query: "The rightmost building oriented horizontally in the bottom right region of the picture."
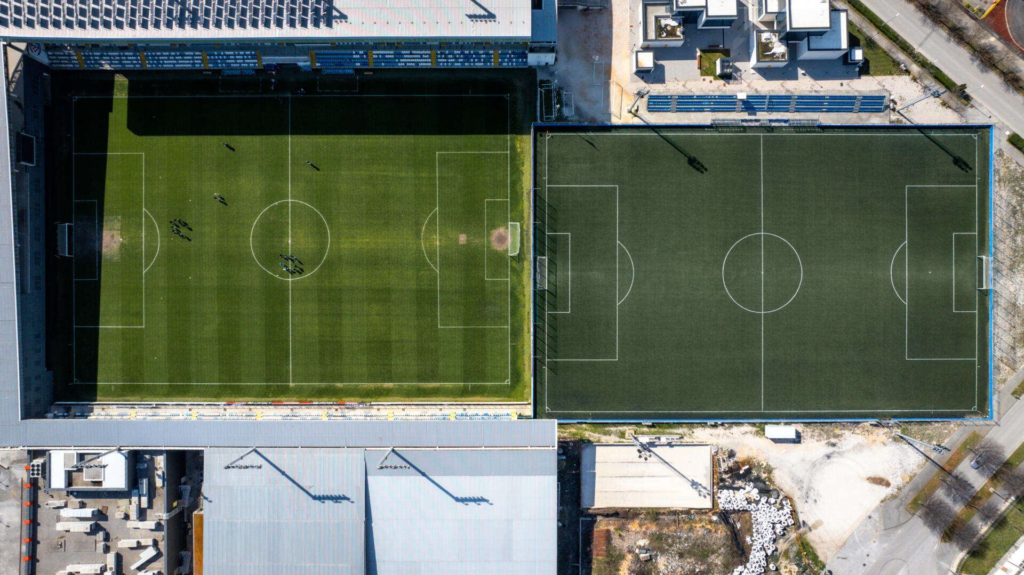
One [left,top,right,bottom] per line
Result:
[762,424,795,438]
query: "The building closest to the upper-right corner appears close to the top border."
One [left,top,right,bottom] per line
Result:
[750,0,864,73]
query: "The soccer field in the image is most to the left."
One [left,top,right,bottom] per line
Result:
[45,65,532,419]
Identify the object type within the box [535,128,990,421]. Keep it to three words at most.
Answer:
soccer field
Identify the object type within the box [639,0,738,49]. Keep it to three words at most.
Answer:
building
